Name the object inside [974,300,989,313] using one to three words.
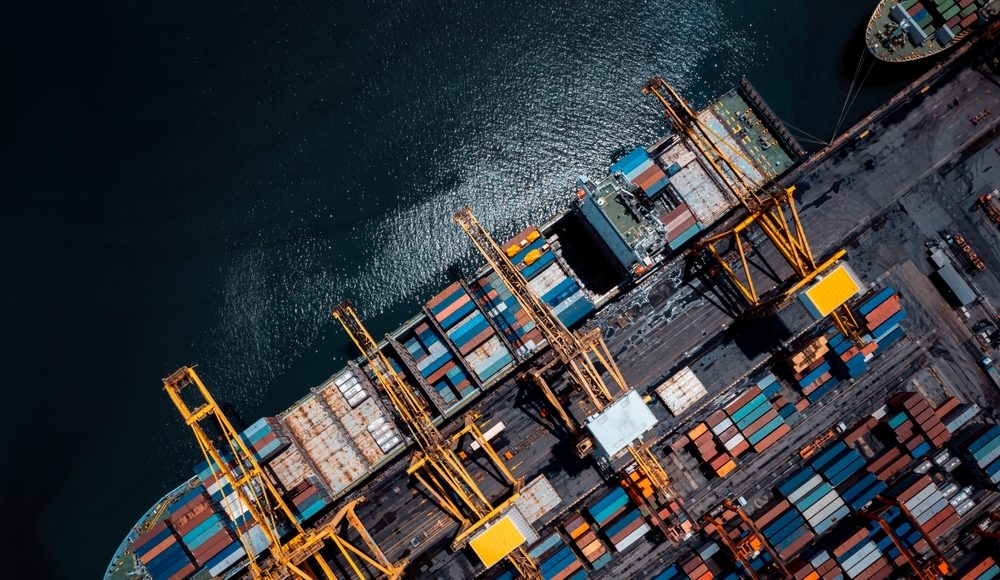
vehicle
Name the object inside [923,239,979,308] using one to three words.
shed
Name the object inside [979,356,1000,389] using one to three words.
truck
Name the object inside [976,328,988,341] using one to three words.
vehicle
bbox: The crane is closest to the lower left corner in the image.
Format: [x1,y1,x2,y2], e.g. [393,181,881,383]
[160,361,407,580]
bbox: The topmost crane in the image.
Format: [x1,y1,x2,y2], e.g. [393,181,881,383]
[645,72,873,348]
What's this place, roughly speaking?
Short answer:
port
